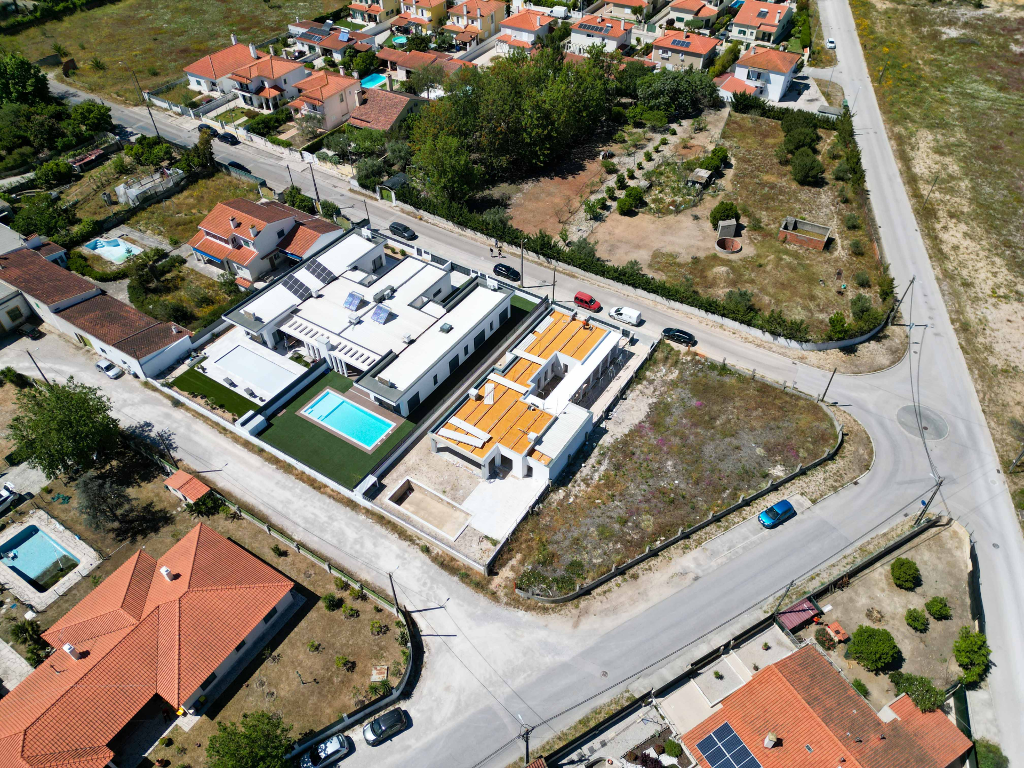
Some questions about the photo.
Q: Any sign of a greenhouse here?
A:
Yes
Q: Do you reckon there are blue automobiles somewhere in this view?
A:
Yes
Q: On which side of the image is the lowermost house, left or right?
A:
right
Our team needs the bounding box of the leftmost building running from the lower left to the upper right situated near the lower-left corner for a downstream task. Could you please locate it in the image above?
[0,521,294,768]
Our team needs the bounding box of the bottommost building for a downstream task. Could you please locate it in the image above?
[682,645,973,768]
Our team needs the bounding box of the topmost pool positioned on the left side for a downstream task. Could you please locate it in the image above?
[389,35,409,47]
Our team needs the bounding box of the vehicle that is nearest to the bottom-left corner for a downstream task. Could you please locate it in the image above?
[0,478,21,509]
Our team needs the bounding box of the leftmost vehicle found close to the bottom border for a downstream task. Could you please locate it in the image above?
[298,728,349,768]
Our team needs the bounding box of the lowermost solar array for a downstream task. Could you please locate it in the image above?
[696,722,763,768]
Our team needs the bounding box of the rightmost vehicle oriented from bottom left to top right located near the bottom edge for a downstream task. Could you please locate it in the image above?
[360,703,410,747]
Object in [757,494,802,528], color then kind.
blue car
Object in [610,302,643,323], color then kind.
white vehicle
